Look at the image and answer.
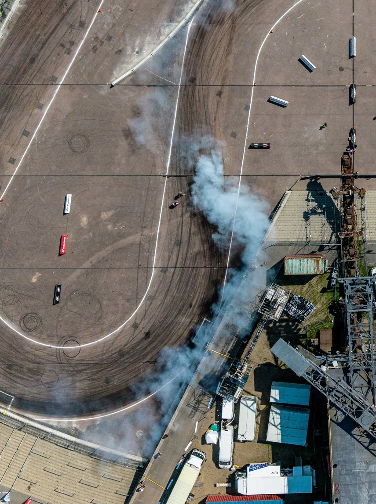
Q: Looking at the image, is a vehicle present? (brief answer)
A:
Yes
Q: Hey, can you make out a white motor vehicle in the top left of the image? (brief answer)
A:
No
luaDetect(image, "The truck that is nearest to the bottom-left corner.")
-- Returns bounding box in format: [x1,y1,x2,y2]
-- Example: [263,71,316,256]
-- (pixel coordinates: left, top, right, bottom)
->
[162,440,212,504]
